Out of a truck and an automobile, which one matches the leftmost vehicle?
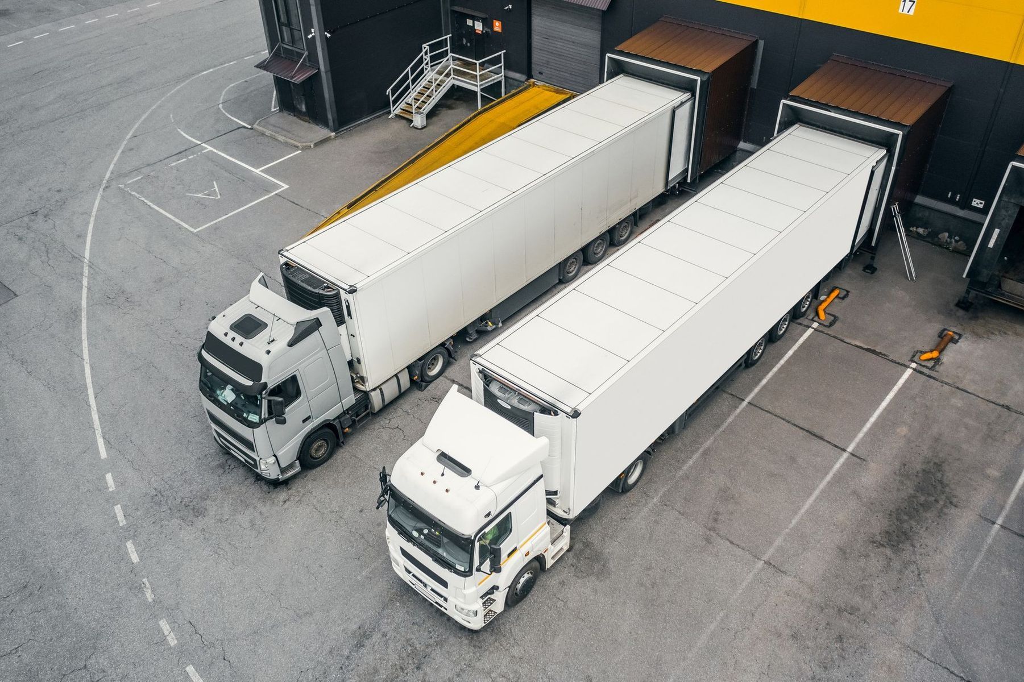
truck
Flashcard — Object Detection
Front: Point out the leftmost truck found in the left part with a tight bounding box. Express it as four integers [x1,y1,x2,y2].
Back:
[188,267,451,481]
